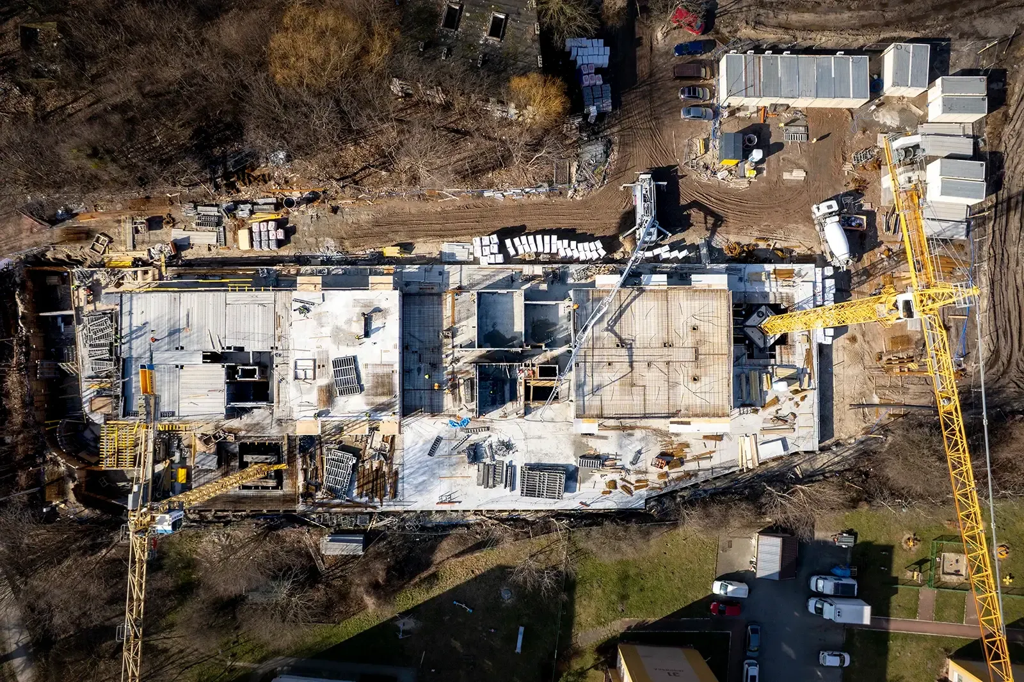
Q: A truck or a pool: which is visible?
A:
truck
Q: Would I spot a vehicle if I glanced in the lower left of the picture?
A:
No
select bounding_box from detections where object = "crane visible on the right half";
[733,139,1016,682]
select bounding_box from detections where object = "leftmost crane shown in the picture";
[97,372,283,682]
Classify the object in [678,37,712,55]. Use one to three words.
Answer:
car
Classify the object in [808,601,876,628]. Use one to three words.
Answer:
truck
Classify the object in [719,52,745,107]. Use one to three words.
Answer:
building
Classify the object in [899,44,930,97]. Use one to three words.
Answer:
building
